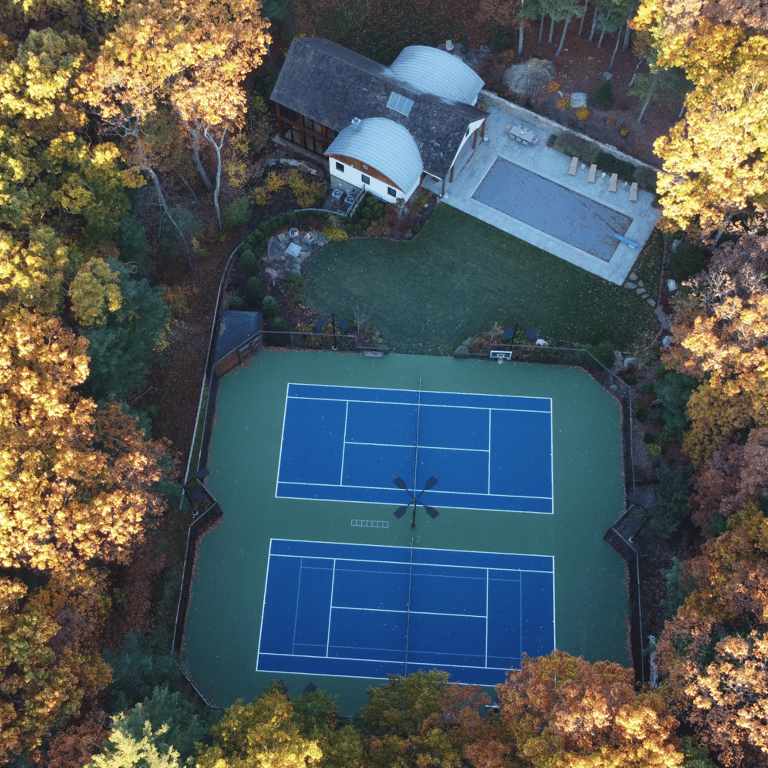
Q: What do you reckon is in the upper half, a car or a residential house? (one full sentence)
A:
There is a residential house in the upper half.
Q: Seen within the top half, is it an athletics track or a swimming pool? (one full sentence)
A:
It is a swimming pool that can be seen within the top half.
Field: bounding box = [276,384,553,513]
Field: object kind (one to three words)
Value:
tennis court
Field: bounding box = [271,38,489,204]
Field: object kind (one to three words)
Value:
house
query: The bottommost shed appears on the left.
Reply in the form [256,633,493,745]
[214,310,264,380]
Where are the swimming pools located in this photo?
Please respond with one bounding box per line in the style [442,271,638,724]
[465,152,640,267]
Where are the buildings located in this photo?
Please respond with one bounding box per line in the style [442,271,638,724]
[214,310,264,380]
[271,38,489,204]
